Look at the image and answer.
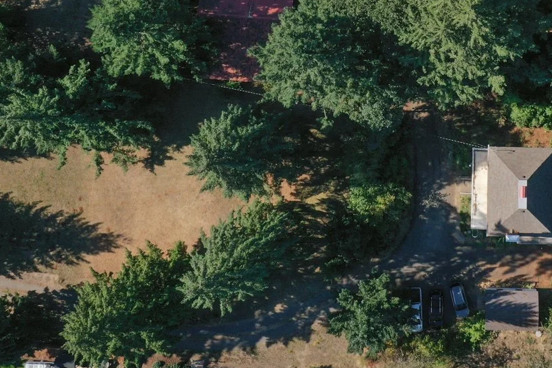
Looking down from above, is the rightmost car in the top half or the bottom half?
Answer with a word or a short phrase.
bottom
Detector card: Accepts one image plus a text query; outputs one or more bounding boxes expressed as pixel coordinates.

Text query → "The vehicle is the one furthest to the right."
[448,280,472,318]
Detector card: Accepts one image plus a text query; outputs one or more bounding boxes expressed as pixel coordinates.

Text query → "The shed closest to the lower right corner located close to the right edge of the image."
[484,282,538,331]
